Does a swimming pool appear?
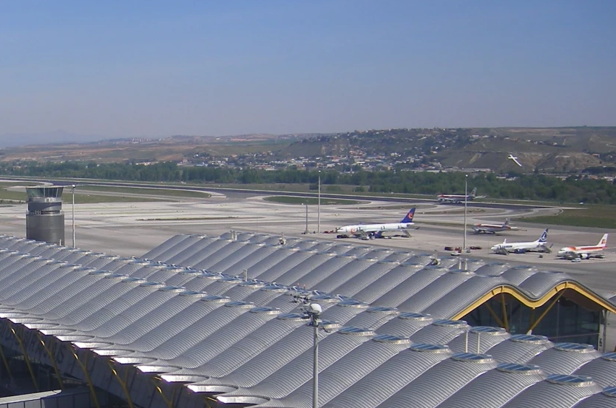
No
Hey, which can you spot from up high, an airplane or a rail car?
airplane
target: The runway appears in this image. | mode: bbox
[0,180,572,210]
